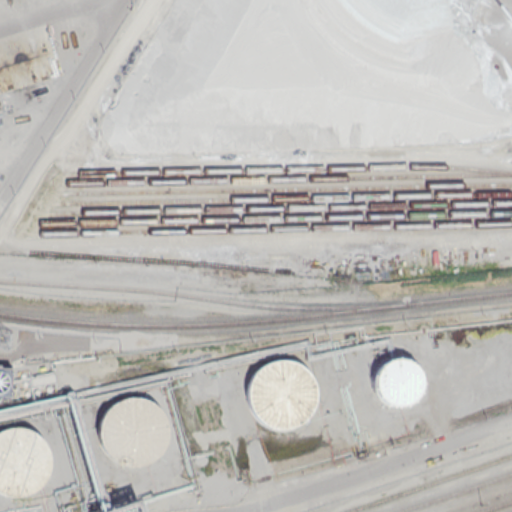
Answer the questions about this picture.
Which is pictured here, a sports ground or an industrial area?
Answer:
industrial area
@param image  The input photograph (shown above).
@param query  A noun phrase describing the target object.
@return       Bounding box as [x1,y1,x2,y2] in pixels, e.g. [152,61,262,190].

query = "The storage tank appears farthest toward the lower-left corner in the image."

[0,427,54,502]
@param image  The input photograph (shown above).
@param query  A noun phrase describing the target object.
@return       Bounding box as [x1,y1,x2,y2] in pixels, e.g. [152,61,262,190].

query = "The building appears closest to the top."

[0,24,60,91]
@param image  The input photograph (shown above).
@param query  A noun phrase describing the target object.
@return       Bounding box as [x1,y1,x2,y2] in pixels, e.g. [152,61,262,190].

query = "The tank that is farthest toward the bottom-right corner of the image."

[372,358,426,414]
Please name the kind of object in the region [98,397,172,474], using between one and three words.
storage tank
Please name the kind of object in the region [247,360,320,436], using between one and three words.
storage tank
